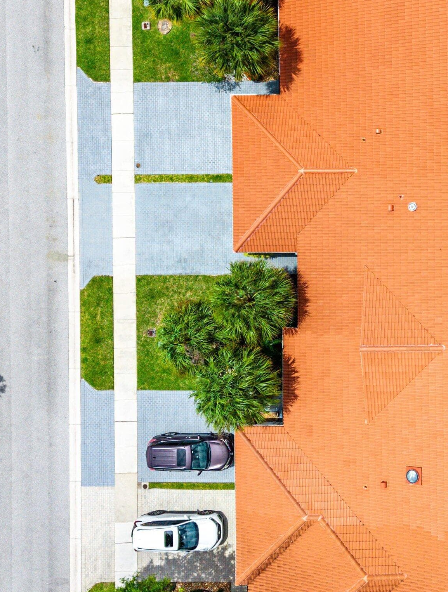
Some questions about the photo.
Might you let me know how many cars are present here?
2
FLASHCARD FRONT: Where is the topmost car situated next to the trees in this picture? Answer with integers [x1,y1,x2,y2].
[144,435,237,483]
